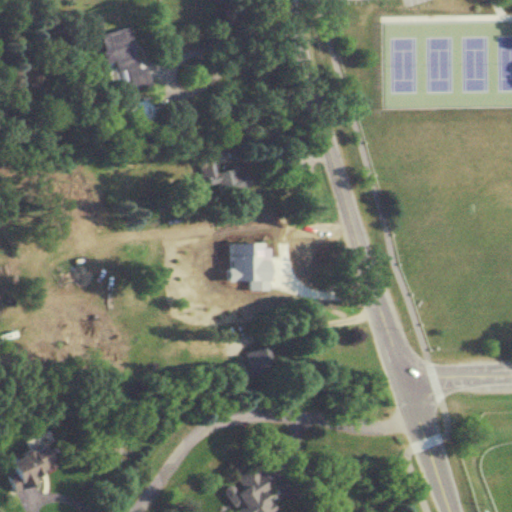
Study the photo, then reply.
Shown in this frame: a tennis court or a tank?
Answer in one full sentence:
There is a tennis court in the scene.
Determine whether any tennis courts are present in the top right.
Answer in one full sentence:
Yes, the scene does show a tennis court in the top right.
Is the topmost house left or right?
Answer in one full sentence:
The topmost house sits on the left side.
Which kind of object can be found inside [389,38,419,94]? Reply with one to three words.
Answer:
tennis court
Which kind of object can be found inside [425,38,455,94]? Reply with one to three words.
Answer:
tennis court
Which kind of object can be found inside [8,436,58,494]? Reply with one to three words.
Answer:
house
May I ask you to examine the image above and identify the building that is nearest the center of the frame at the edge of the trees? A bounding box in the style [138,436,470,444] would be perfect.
[229,242,276,293]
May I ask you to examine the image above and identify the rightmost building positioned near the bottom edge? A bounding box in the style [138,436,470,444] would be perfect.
[235,470,280,512]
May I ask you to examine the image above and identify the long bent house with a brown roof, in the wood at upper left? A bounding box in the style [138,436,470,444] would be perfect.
[102,26,156,90]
